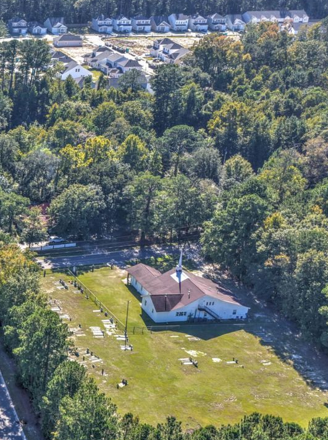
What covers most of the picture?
trees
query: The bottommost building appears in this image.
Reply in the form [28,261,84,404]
[124,250,254,323]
